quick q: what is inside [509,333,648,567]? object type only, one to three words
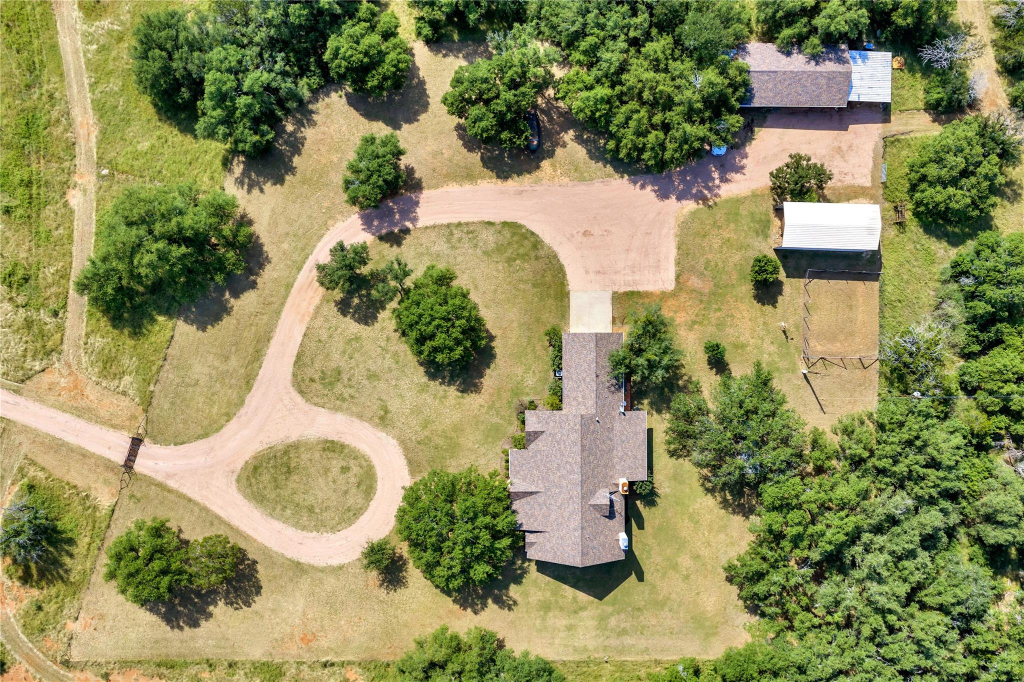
house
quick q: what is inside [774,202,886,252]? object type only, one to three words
shed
